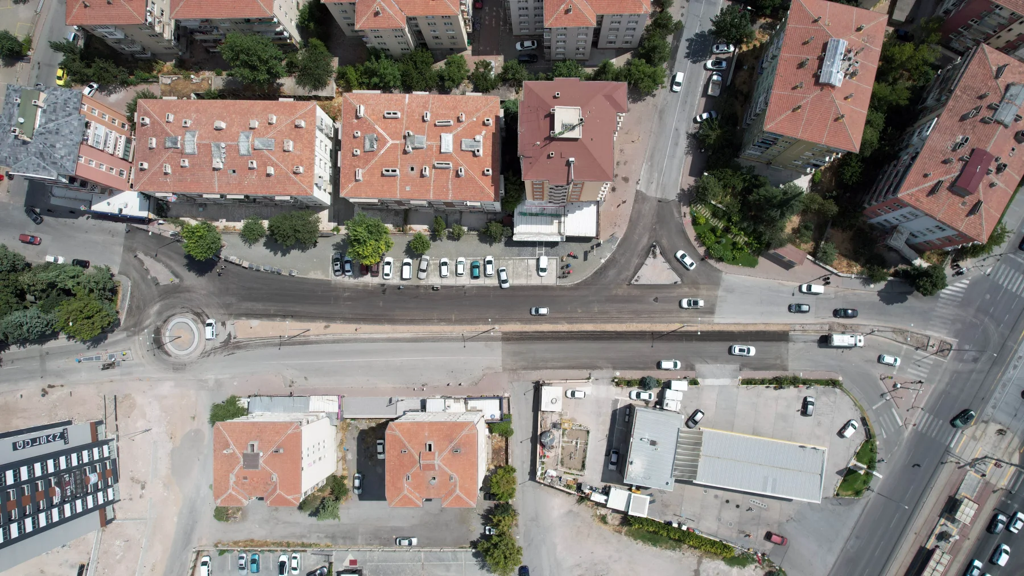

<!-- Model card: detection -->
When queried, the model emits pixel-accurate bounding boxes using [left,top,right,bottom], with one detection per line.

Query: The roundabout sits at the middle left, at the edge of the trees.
[134,289,227,382]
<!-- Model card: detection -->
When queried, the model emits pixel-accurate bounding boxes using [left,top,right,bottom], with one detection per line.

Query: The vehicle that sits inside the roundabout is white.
[203,318,218,342]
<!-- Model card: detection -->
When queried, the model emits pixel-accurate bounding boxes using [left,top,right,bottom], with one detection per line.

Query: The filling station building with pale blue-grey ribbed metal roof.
[620,401,685,492]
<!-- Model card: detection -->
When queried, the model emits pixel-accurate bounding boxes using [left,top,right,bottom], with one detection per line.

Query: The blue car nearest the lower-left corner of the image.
[248,552,261,574]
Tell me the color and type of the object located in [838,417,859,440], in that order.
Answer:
white car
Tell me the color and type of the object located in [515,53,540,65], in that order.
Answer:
black vehicle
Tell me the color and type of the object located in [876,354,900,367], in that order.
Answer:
white vehicle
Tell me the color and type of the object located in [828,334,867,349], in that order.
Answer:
white vehicle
